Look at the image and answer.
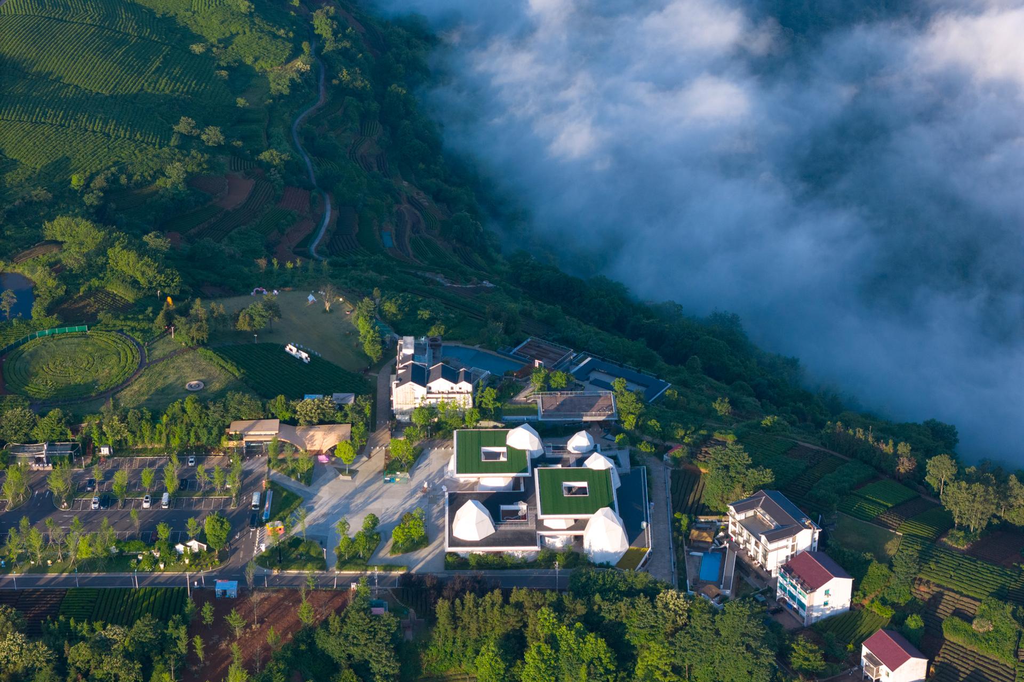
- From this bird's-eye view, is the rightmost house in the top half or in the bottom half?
bottom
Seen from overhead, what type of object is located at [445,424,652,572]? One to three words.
building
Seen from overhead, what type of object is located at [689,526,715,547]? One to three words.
gazebo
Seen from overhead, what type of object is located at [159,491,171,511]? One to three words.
vehicle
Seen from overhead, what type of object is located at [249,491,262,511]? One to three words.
vehicle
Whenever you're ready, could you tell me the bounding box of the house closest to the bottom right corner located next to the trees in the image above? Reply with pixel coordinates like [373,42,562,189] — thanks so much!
[851,626,926,682]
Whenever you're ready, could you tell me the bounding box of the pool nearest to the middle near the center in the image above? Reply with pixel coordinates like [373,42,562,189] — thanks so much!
[442,346,524,375]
